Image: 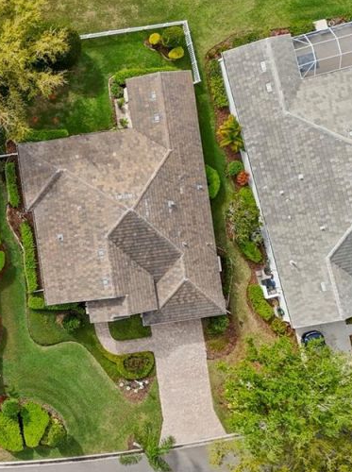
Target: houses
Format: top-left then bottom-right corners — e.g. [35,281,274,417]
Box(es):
[214,35,352,329]
[18,70,227,326]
